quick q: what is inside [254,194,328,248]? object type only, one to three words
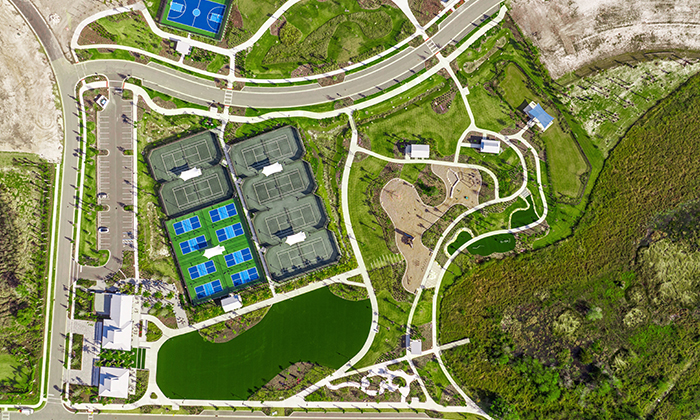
tennis court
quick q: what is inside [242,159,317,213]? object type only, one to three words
tennis court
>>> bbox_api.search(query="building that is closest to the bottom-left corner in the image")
[98,366,131,398]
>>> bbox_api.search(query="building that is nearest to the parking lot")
[94,293,135,350]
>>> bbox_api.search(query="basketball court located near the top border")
[161,0,231,38]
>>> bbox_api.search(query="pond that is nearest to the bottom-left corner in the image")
[154,285,372,401]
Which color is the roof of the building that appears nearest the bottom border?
white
